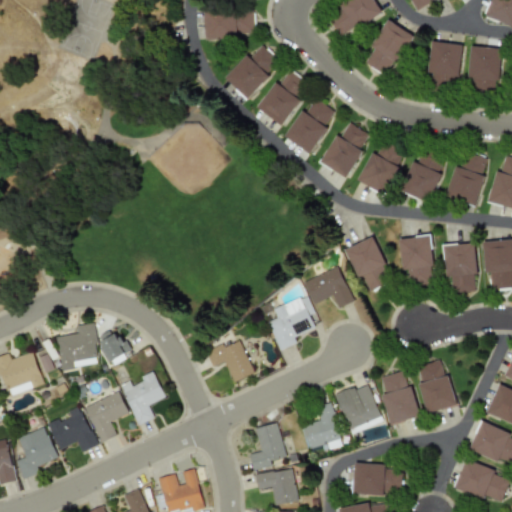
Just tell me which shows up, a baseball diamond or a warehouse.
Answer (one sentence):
There is a baseball diamond in the scene.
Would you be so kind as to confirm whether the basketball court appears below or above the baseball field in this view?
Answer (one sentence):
Within the scene, the basketball court can be found above the baseball field.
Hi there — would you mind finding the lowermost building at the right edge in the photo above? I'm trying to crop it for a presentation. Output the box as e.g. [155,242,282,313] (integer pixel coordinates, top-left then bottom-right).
[456,460,510,502]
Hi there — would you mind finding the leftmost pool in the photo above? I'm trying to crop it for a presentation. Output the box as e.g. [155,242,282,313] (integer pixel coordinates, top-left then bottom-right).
[14,394,34,412]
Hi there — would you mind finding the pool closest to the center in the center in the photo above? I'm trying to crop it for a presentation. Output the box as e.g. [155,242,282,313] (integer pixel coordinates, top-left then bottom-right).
[283,284,304,304]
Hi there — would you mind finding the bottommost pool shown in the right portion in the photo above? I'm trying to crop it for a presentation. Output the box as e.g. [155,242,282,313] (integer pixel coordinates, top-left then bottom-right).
[364,424,389,442]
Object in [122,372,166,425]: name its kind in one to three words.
house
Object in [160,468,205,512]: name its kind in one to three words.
house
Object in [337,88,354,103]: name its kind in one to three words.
vehicle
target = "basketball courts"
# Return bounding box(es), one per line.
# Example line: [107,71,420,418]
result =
[58,0,114,57]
